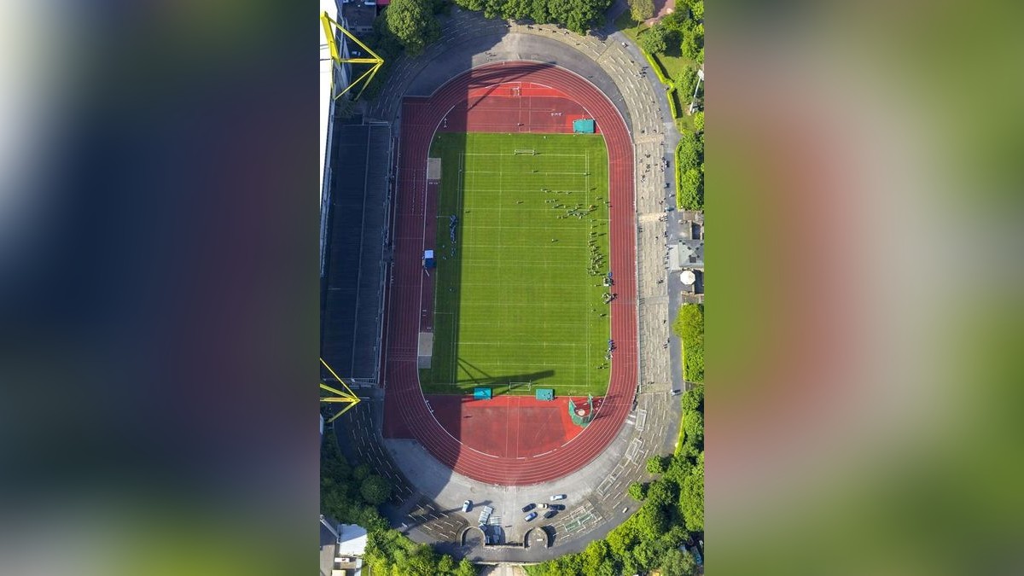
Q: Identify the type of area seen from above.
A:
sports ground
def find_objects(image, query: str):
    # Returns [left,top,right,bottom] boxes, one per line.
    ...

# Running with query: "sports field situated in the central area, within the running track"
[419,132,610,396]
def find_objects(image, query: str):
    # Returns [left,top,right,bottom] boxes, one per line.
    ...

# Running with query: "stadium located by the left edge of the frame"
[0,0,384,574]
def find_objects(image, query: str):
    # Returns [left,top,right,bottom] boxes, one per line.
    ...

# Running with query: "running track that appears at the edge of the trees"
[380,59,638,486]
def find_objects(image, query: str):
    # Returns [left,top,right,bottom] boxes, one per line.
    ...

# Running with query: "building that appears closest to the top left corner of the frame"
[341,0,379,37]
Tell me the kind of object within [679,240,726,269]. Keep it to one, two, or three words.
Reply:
building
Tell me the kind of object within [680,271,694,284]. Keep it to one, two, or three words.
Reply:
umbrella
